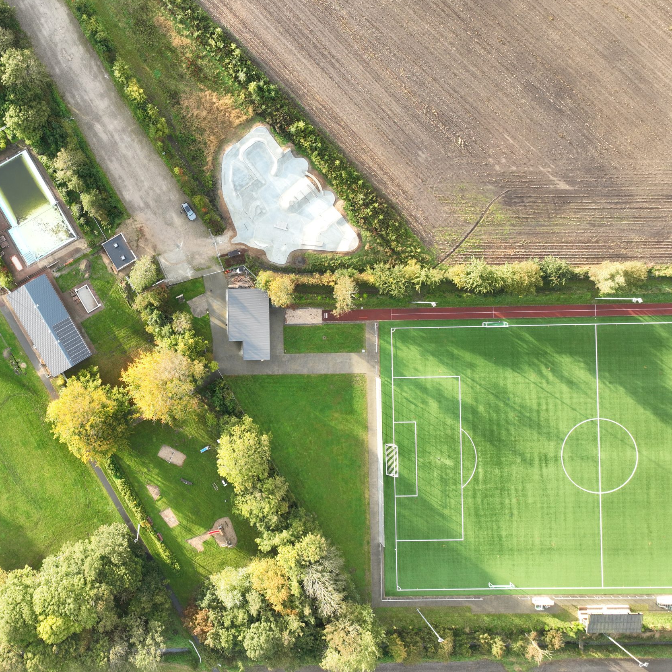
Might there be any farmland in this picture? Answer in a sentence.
Yes, some farmland is visible.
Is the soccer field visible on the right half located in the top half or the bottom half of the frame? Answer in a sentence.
The soccer field visible on the right half sits in the bottom half of the picture.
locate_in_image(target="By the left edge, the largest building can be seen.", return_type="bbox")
[6,274,94,377]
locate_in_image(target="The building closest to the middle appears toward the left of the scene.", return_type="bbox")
[226,289,270,362]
